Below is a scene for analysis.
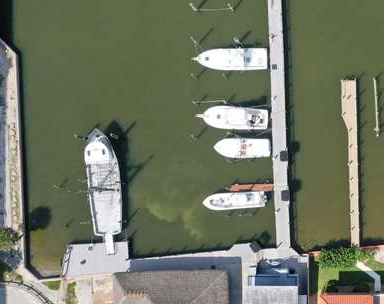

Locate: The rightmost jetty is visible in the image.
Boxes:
[341,79,361,246]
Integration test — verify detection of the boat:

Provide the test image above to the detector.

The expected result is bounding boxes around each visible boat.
[78,127,127,234]
[202,191,270,209]
[190,41,268,70]
[194,104,269,130]
[212,138,273,158]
